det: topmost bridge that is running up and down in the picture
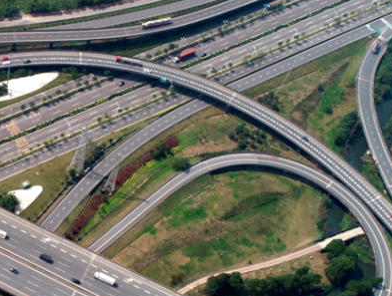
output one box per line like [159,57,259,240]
[355,38,392,199]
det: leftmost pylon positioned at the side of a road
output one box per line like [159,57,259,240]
[68,125,95,175]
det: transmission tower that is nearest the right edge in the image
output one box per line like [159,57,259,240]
[98,149,128,194]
